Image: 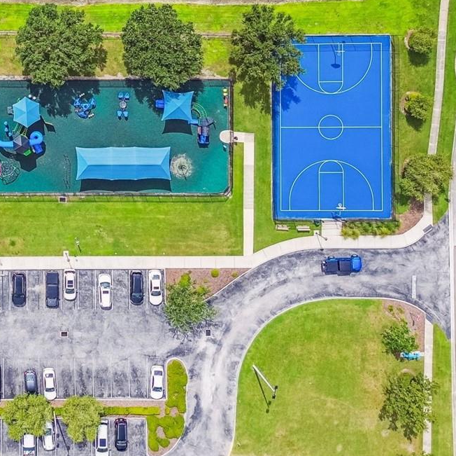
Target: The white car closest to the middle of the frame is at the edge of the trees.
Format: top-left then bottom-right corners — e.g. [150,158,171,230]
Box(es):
[149,269,164,303]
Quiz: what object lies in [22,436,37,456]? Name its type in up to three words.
car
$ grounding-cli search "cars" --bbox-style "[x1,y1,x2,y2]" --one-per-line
[114,418,129,449]
[150,365,165,397]
[22,436,37,456]
[95,421,110,456]
[42,419,57,449]
[11,272,26,306]
[62,269,78,300]
[129,271,145,304]
[23,369,38,398]
[320,256,360,273]
[97,274,113,308]
[149,269,164,303]
[43,367,57,399]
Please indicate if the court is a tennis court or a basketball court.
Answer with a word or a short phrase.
basketball court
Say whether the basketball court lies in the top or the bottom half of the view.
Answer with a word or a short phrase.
top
